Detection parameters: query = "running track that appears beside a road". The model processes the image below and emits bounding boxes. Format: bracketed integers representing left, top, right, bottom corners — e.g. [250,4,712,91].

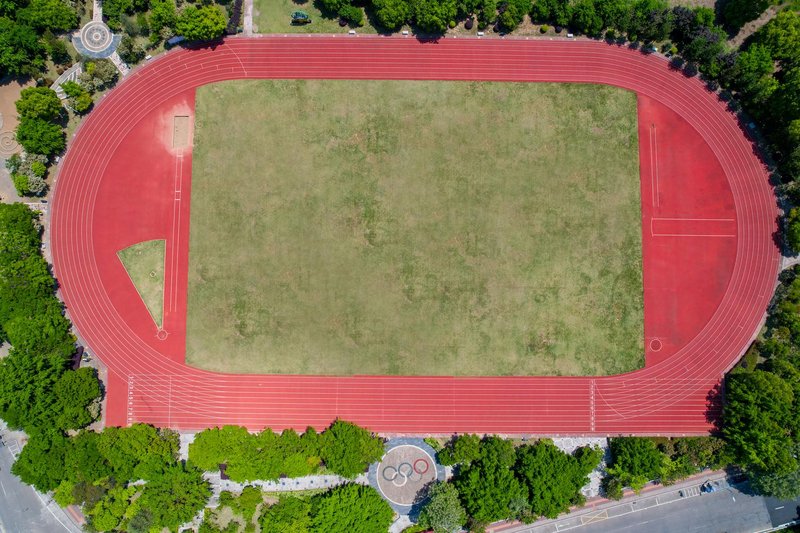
[49,36,780,434]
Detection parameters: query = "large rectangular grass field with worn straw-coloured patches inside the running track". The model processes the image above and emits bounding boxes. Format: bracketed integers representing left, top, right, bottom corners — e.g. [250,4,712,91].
[187,78,644,377]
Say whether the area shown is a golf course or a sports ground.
sports ground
